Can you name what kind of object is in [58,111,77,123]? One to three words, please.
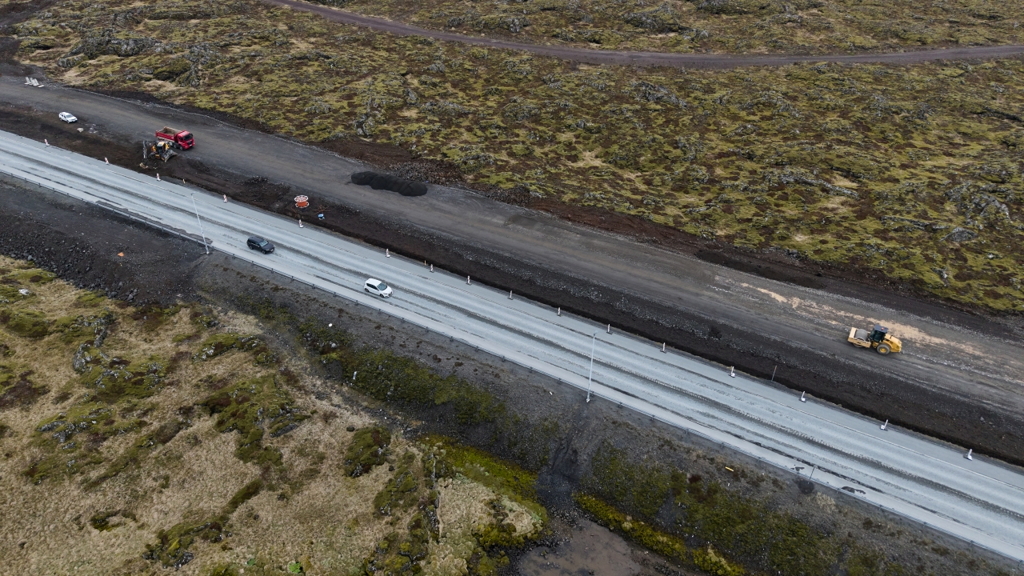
vehicle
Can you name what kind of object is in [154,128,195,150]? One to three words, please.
truck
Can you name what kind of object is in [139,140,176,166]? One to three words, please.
work vehicle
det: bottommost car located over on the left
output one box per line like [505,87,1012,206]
[363,278,392,297]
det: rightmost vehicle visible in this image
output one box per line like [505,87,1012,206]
[849,324,904,355]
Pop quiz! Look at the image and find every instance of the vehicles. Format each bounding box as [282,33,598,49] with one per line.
[154,128,195,150]
[363,278,392,297]
[849,324,904,355]
[58,111,77,123]
[139,140,176,166]
[245,235,276,254]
